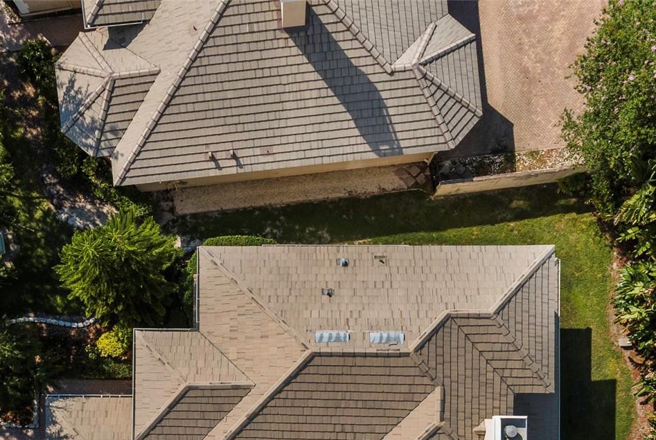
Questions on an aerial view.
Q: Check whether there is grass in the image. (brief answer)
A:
Yes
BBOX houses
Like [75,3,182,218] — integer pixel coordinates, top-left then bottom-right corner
[41,242,562,440]
[8,0,484,191]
